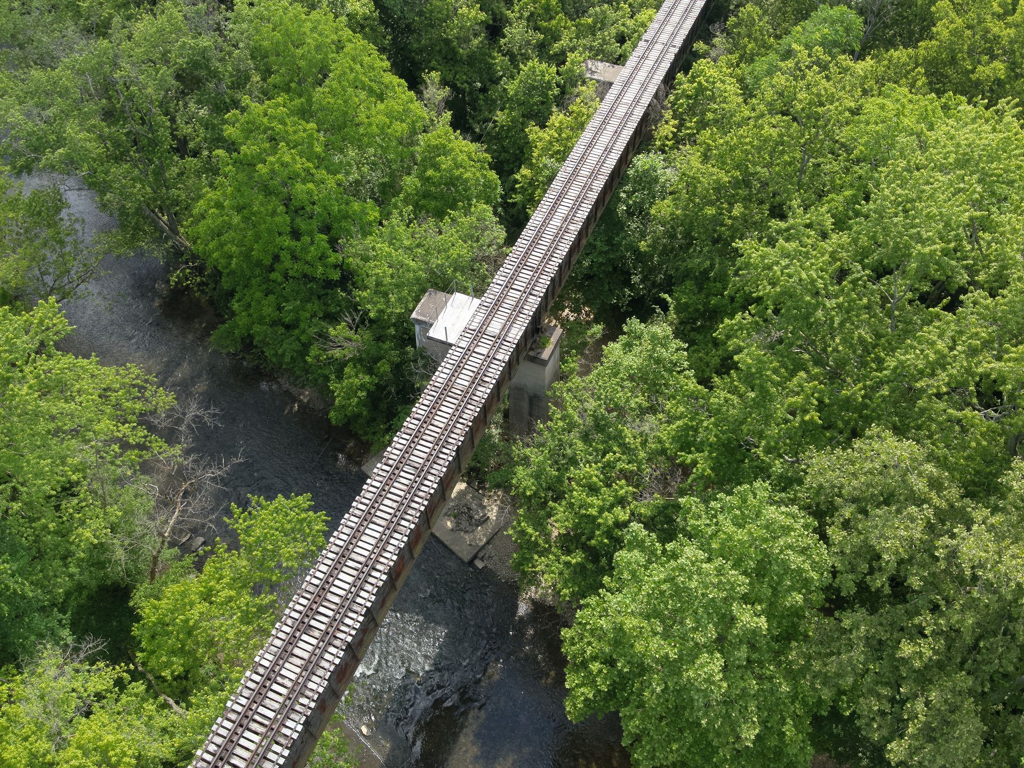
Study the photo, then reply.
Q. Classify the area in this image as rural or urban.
rural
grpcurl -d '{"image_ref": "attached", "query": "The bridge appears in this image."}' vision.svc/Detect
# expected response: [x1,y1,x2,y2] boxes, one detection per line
[189,0,715,768]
